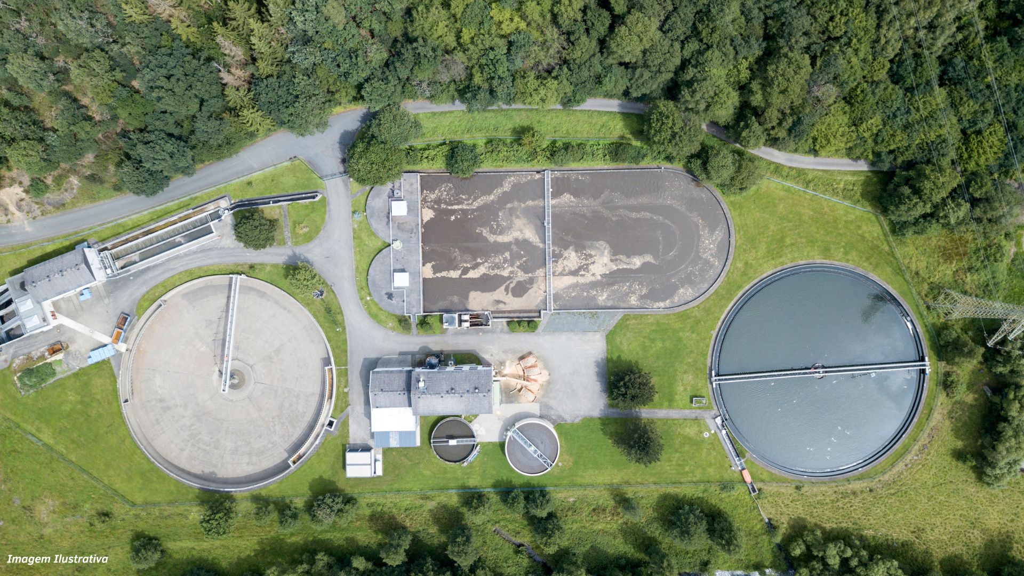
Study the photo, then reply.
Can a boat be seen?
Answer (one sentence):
No, the photo shows no boat.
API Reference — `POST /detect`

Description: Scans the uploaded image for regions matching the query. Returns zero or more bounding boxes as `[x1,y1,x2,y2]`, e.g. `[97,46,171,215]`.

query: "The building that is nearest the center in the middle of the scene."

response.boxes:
[444,312,495,328]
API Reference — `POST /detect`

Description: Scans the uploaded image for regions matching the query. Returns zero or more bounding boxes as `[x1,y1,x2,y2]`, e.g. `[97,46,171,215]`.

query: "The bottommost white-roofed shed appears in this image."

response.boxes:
[346,447,376,477]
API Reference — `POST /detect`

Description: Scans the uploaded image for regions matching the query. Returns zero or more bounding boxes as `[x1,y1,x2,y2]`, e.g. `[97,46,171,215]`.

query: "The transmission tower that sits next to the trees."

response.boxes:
[924,285,1024,348]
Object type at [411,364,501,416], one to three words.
building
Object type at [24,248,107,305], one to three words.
building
